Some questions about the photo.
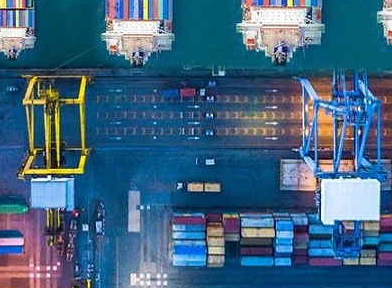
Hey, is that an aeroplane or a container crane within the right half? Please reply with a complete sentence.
It is a container crane that can be seen within the right half.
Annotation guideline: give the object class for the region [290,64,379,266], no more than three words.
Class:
container crane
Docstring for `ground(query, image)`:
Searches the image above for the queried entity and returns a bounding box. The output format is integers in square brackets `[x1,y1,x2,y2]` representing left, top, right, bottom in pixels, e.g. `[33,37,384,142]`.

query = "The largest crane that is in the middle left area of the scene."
[16,75,96,252]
